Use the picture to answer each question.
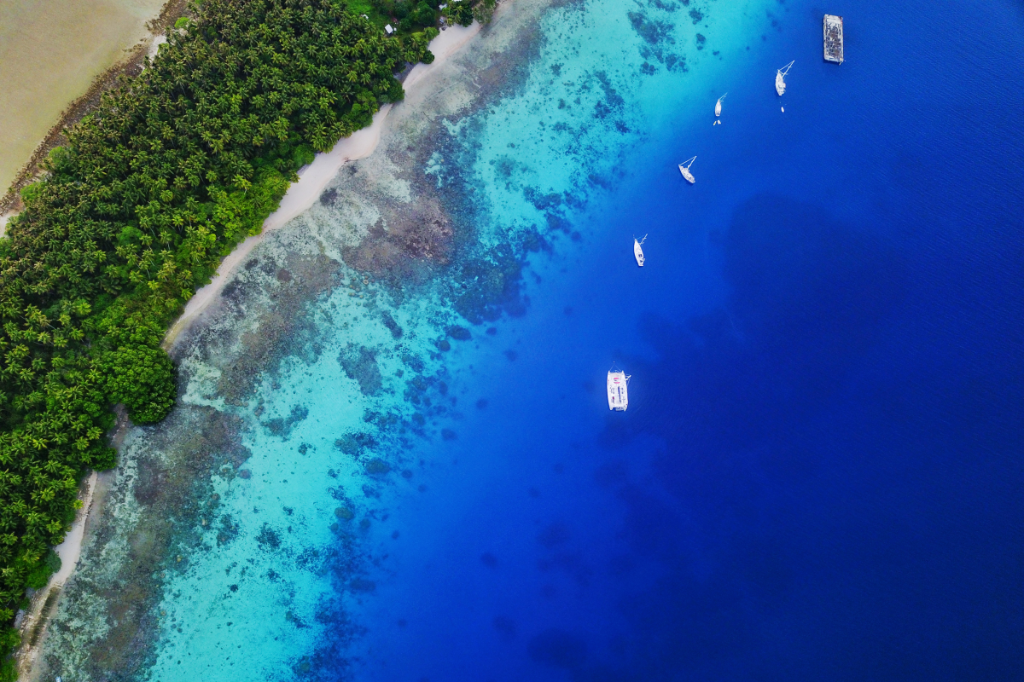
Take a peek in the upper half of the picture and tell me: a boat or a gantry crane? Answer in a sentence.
What appears in the upper half of the picture is a boat.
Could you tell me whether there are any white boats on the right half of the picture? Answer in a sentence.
Yes, a white boat can be seen on the right half of the picture.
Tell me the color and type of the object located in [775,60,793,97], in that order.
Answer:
white boat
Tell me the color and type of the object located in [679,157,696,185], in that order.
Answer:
white boat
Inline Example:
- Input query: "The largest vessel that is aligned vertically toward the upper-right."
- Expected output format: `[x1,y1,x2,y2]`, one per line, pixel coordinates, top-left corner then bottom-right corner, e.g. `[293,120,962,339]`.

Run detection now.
[823,13,844,64]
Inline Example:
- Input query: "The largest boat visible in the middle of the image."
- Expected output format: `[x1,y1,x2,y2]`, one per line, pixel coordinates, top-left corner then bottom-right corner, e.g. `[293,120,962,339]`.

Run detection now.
[607,371,630,412]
